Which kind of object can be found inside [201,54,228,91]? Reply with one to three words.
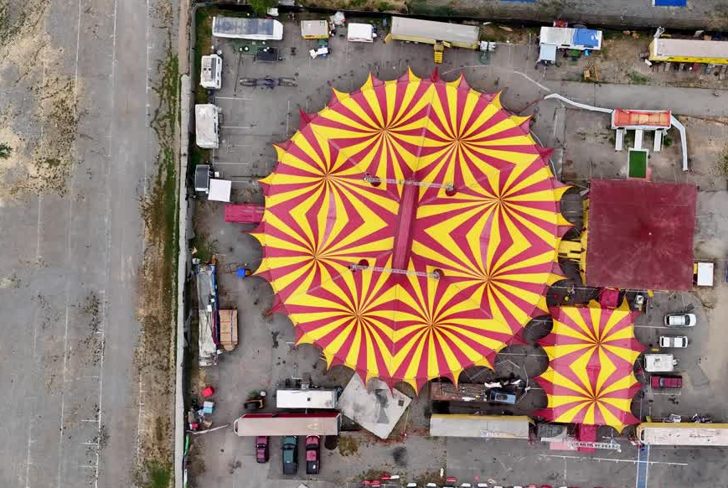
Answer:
camper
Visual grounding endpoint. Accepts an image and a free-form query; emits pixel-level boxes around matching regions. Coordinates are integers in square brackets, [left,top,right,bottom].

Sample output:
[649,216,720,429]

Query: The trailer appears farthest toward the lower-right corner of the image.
[634,422,728,445]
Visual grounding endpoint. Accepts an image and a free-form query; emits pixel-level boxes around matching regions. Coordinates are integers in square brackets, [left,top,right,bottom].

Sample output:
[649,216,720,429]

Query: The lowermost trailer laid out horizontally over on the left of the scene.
[235,413,345,436]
